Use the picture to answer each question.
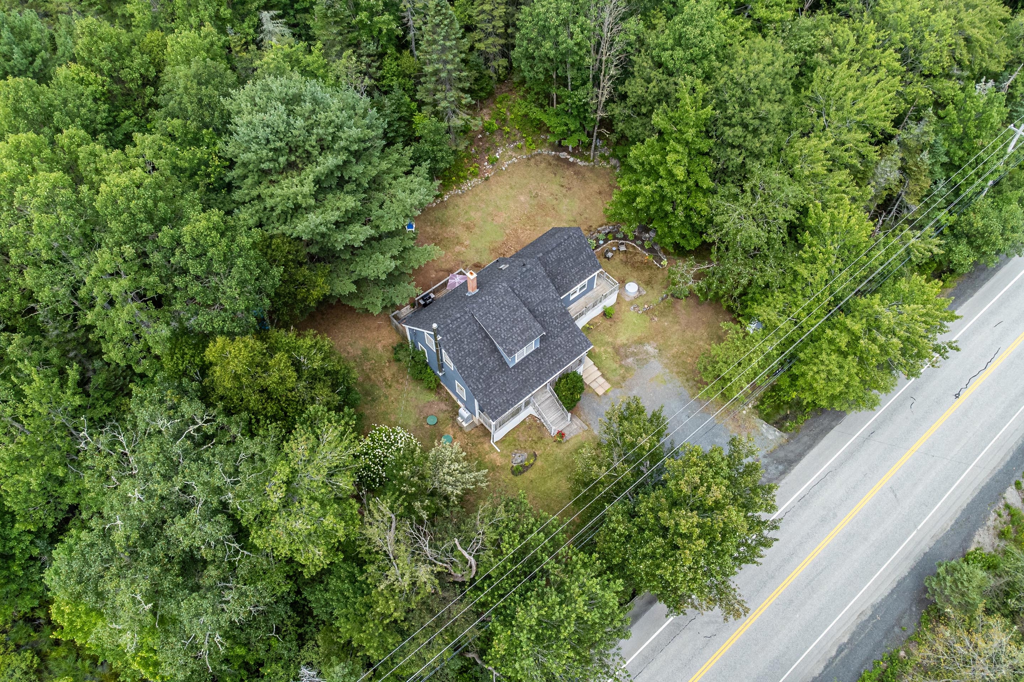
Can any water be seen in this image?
No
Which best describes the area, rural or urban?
rural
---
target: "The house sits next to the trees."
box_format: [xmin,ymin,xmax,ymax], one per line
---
[387,228,620,454]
